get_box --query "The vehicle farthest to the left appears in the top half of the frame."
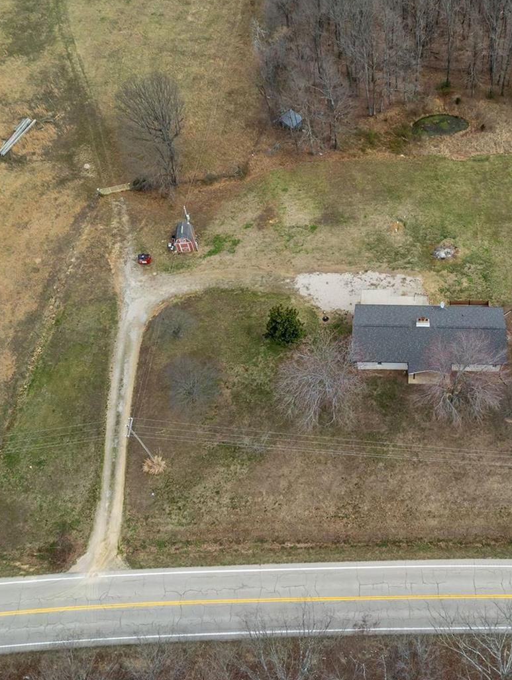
[137,250,151,264]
